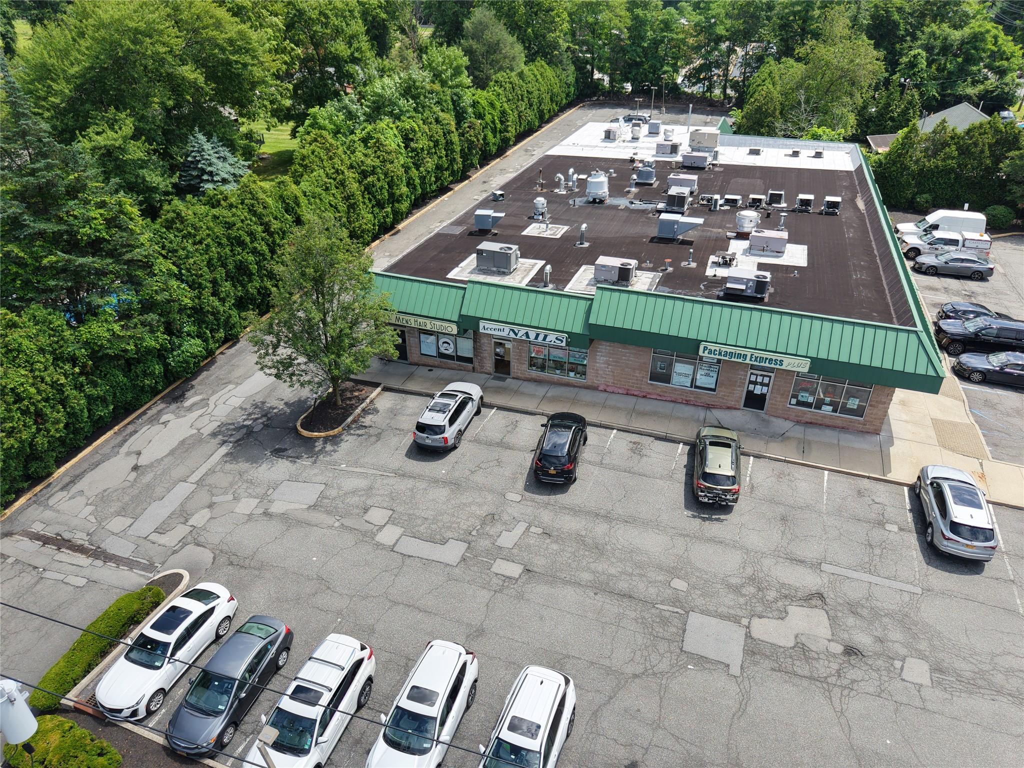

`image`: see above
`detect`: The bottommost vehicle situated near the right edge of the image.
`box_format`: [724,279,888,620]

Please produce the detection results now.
[913,468,1001,568]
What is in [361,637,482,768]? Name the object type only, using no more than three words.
car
